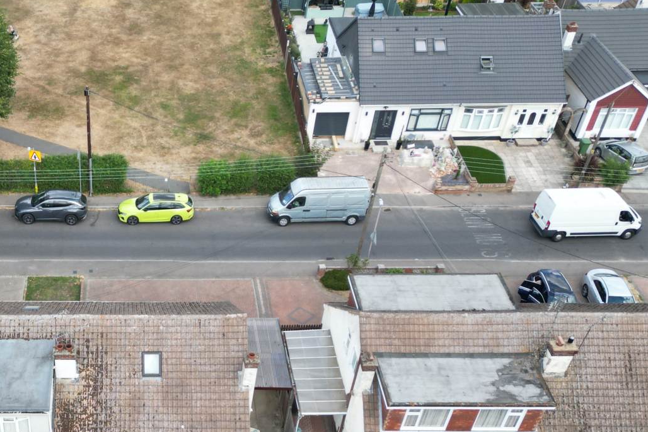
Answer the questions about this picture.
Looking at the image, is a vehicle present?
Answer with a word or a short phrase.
Yes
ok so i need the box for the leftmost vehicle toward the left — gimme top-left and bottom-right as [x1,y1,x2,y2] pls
[14,187,89,224]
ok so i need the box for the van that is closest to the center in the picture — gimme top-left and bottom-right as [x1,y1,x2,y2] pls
[265,172,371,223]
